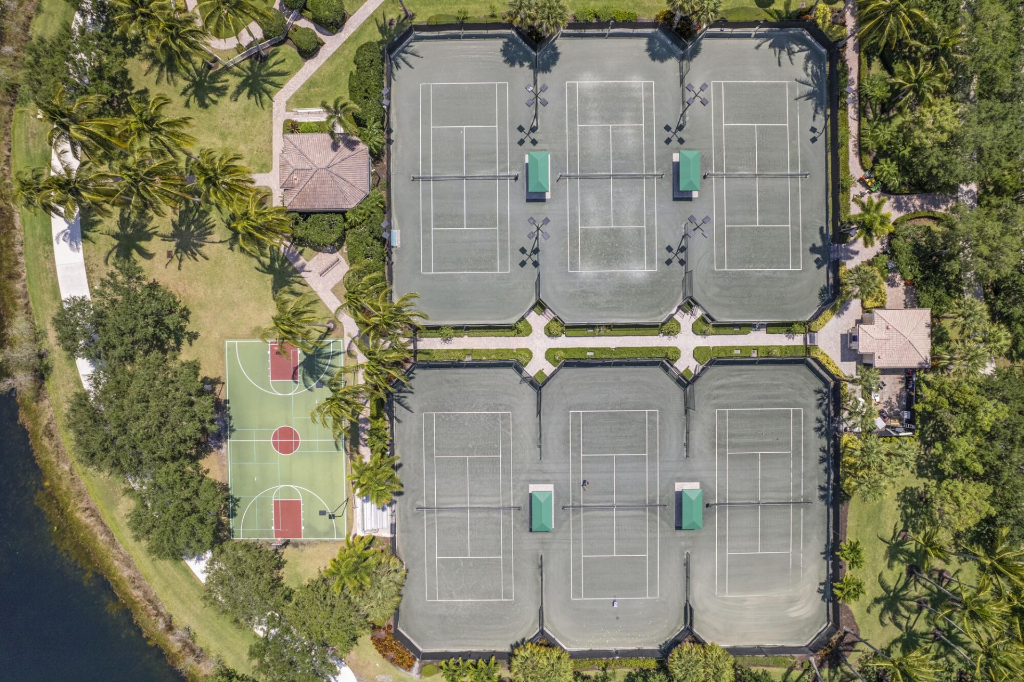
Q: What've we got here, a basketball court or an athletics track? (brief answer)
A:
basketball court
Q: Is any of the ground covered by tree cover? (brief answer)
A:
Yes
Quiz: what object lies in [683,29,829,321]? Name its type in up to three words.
tennis court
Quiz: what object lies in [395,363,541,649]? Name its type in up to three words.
tennis court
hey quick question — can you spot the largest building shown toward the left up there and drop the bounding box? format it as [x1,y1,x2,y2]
[278,133,370,210]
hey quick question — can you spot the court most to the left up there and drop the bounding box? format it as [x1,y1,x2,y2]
[224,338,349,542]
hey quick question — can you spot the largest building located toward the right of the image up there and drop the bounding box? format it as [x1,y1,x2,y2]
[848,308,931,368]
